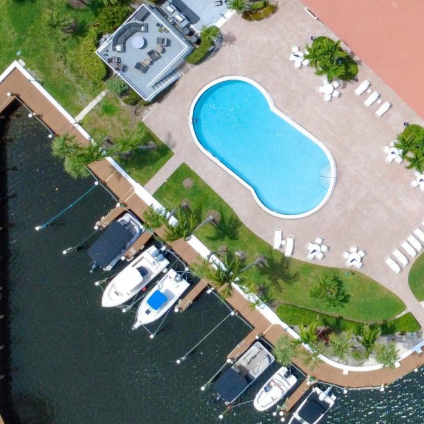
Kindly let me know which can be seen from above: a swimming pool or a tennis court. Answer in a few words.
swimming pool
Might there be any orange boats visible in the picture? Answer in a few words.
No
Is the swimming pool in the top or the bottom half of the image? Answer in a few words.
top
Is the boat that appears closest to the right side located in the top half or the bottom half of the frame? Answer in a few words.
bottom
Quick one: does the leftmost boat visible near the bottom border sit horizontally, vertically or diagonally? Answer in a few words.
diagonally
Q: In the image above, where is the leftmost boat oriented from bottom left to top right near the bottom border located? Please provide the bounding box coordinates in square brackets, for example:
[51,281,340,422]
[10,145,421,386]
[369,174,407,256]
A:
[211,342,273,406]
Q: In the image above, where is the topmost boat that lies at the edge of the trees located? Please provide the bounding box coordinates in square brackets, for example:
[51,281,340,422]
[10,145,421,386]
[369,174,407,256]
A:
[84,215,144,270]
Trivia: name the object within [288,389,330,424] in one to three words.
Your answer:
boat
